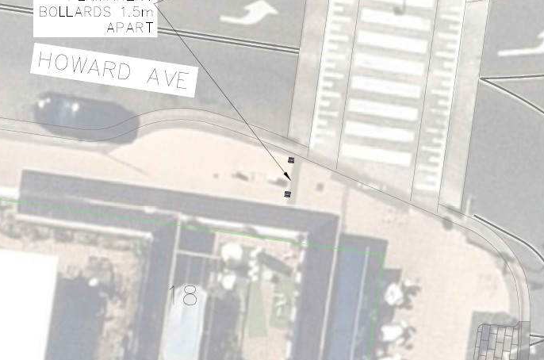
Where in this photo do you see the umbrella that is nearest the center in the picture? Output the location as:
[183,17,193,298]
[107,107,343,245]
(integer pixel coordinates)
[219,243,240,264]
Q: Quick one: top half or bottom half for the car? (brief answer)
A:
top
